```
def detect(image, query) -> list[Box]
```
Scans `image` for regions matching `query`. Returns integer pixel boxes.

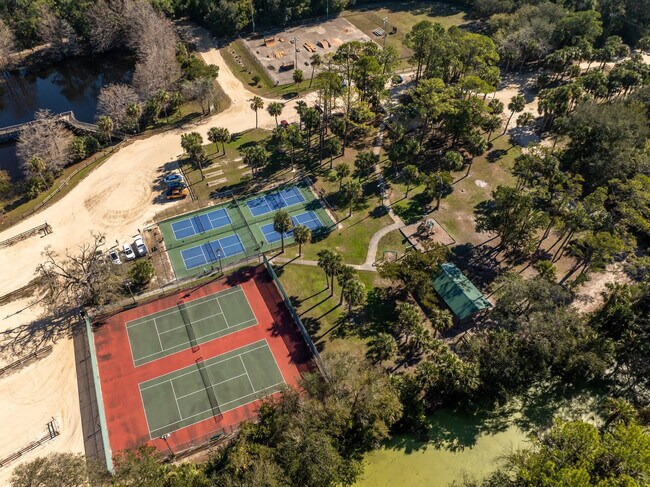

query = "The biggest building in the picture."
[426,262,493,327]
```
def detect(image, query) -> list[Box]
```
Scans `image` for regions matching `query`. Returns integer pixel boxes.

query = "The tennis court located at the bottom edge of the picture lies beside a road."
[101,320,322,472]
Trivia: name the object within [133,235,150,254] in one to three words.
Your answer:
vehicle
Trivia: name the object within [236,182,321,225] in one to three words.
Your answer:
sports court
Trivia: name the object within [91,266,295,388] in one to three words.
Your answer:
tennis court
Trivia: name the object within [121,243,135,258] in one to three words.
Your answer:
vehicle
